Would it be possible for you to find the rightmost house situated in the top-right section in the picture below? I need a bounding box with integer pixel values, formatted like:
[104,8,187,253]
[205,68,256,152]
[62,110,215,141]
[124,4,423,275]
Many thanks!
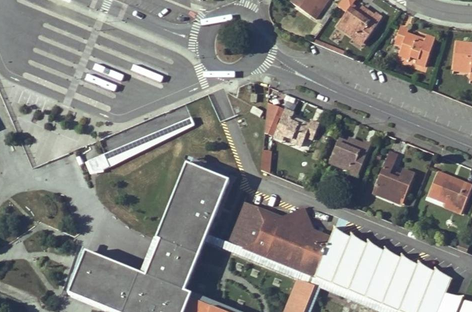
[451,41,472,80]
